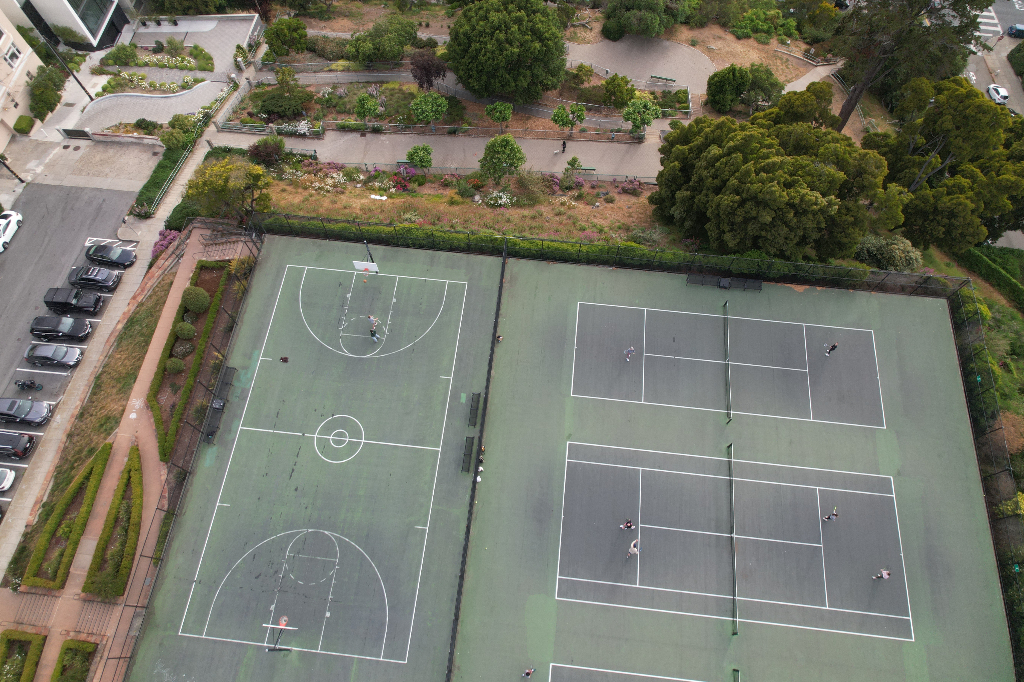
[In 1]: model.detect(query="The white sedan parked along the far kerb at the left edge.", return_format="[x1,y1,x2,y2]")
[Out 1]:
[0,208,26,254]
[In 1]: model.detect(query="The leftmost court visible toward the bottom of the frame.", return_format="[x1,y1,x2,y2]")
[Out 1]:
[127,234,503,682]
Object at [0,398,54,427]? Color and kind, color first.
gray car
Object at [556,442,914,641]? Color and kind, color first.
gray tennis court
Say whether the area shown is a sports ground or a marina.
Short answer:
sports ground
